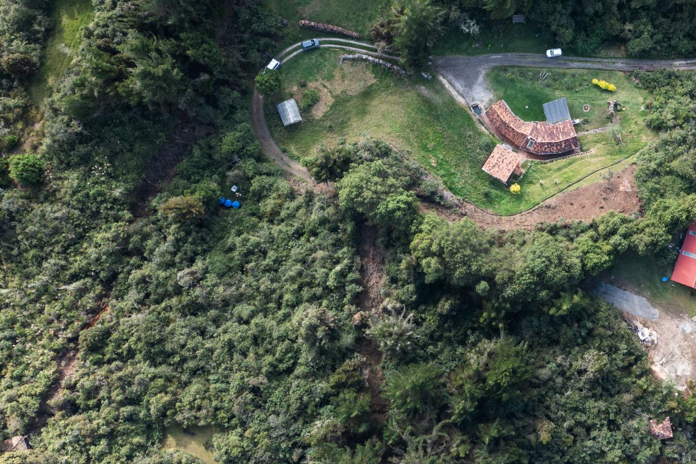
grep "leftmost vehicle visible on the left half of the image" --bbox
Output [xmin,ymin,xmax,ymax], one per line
[264,57,280,72]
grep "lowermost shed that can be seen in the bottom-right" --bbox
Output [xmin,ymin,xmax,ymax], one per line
[650,416,673,439]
